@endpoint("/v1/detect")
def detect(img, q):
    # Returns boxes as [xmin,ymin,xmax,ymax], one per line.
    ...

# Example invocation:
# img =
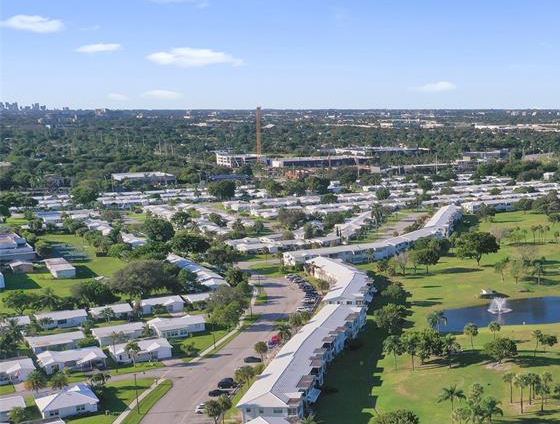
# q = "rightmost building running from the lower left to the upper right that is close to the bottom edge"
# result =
[234,304,362,424]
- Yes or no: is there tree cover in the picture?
Yes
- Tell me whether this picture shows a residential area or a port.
residential area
